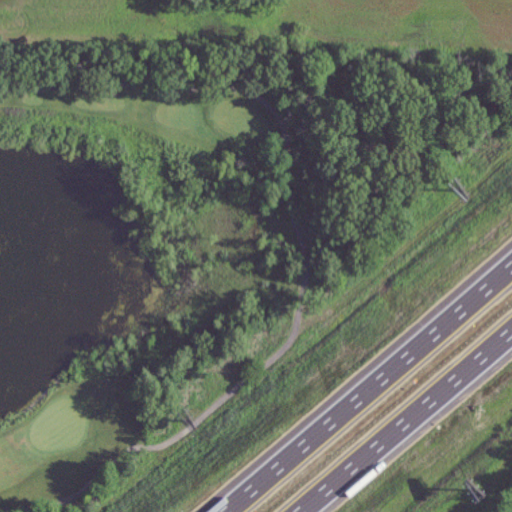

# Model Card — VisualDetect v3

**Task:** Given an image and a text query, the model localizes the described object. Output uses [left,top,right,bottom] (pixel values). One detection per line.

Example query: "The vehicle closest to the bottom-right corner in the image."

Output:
[346,462,385,498]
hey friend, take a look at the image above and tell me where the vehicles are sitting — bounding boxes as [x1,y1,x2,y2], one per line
[210,498,230,512]
[346,462,385,498]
